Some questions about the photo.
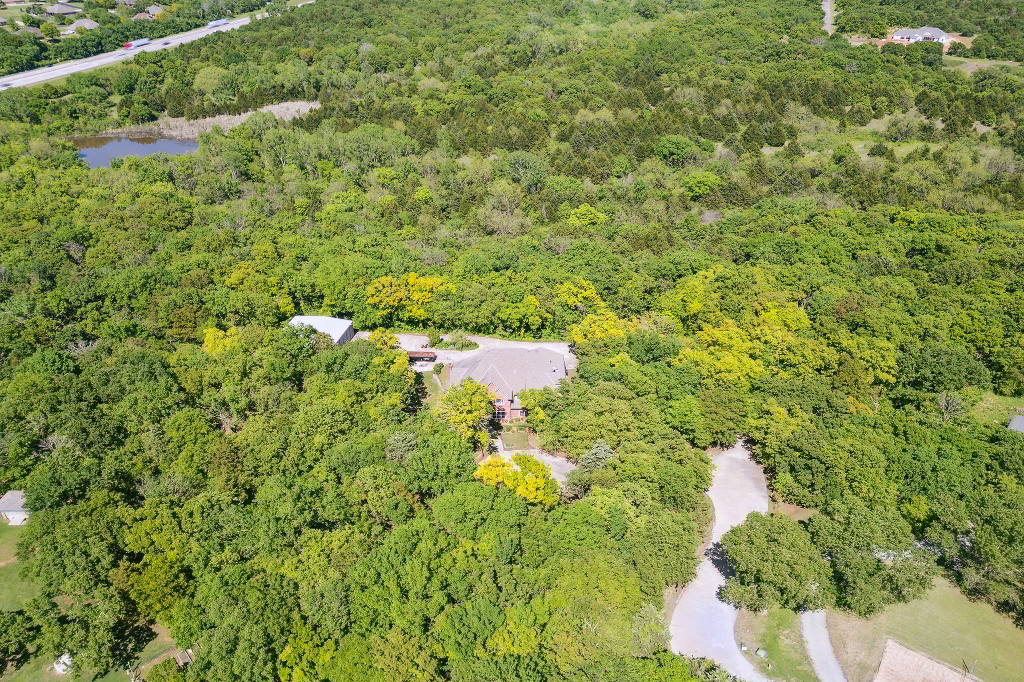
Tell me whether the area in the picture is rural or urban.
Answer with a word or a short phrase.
rural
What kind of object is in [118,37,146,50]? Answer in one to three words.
vehicle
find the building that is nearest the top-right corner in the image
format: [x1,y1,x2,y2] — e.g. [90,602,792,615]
[889,26,954,45]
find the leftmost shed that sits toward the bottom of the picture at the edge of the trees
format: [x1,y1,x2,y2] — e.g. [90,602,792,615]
[0,489,36,530]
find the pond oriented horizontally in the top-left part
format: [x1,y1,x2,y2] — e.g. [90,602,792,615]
[66,135,198,167]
